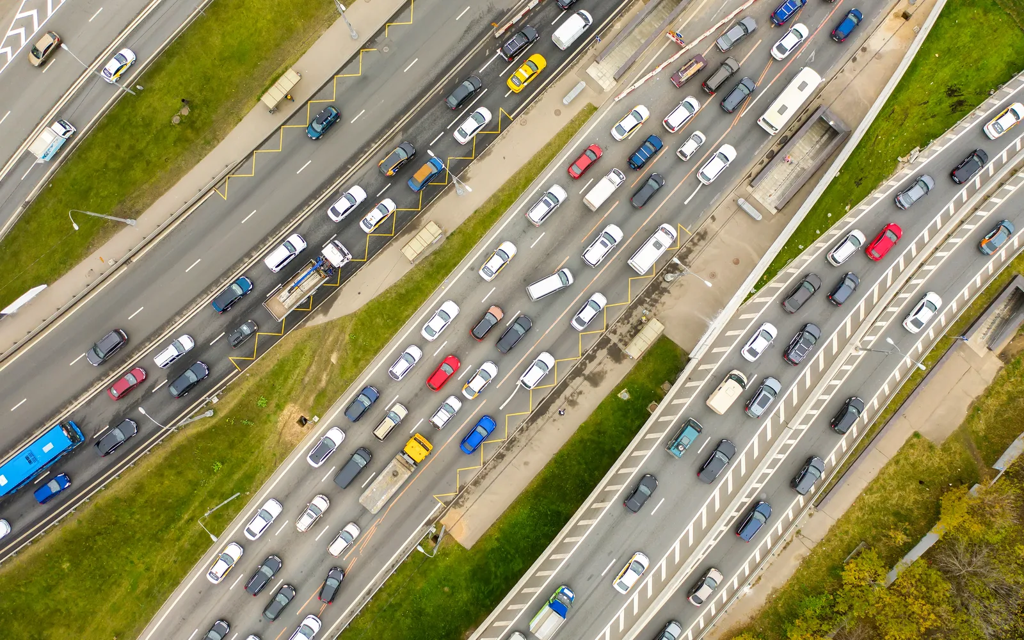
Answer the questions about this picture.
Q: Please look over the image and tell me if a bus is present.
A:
Yes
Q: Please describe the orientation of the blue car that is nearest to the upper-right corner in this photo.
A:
at an angle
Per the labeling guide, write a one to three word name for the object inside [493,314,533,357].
vehicle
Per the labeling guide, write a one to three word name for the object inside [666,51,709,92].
car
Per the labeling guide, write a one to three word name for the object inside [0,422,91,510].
bus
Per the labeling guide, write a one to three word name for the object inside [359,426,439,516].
truck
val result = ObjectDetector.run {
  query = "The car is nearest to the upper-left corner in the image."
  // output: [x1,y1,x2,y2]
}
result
[27,28,64,68]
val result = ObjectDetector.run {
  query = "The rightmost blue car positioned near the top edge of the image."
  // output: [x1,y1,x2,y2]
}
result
[830,8,864,45]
